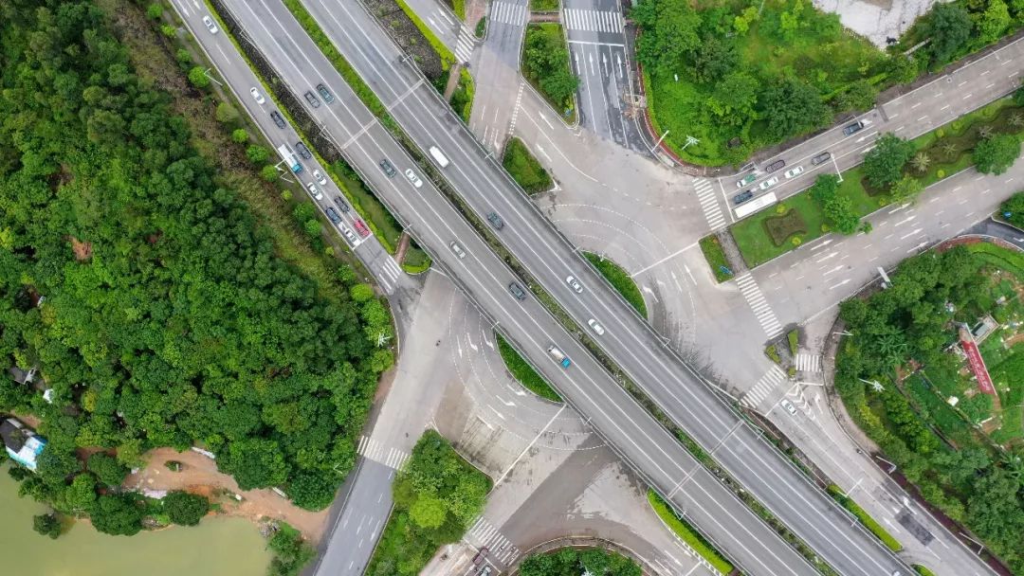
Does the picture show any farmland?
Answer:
No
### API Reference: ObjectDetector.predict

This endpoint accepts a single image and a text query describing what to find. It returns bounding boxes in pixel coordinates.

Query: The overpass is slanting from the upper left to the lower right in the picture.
[214,0,921,576]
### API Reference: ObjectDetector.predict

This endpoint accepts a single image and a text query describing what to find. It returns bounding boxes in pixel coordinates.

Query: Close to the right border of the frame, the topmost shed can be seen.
[971,314,1001,345]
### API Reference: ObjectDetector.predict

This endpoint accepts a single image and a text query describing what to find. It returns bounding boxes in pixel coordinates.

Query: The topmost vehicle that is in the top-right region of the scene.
[841,120,864,136]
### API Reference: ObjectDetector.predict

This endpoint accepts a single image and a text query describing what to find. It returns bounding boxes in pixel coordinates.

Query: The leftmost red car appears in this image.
[354,218,370,236]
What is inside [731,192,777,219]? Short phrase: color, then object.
white bus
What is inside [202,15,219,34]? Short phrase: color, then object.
white car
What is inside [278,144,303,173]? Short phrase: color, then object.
white truck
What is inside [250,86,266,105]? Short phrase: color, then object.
white car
